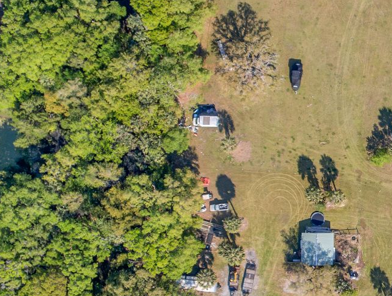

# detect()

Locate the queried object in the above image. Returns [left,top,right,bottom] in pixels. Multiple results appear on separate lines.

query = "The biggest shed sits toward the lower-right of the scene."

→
[299,226,334,264]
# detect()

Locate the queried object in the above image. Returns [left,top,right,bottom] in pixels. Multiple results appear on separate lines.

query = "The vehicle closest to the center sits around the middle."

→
[194,114,220,127]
